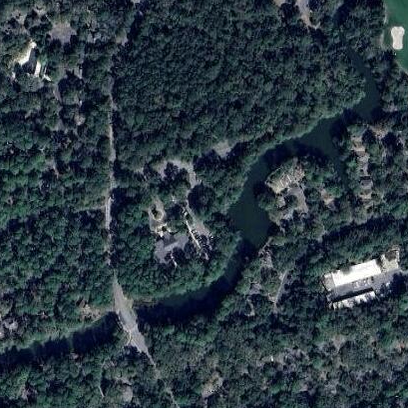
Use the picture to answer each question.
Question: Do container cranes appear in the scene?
No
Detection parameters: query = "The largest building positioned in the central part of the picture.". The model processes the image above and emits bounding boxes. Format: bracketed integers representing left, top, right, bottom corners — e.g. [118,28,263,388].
[148,230,183,259]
